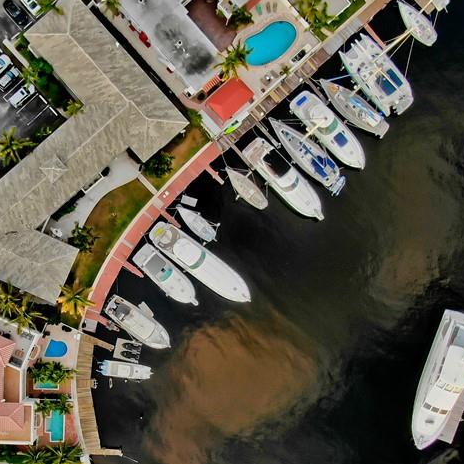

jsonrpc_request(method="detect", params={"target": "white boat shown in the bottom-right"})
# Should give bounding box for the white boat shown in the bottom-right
[412,304,464,450]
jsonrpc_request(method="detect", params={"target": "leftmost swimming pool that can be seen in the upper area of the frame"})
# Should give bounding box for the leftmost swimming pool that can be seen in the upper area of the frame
[241,18,298,67]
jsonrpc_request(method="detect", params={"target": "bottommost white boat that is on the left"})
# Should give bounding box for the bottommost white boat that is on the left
[99,361,150,379]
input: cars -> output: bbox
[0,67,22,92]
[1,0,30,30]
[0,53,13,76]
[20,0,44,19]
[9,82,37,110]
